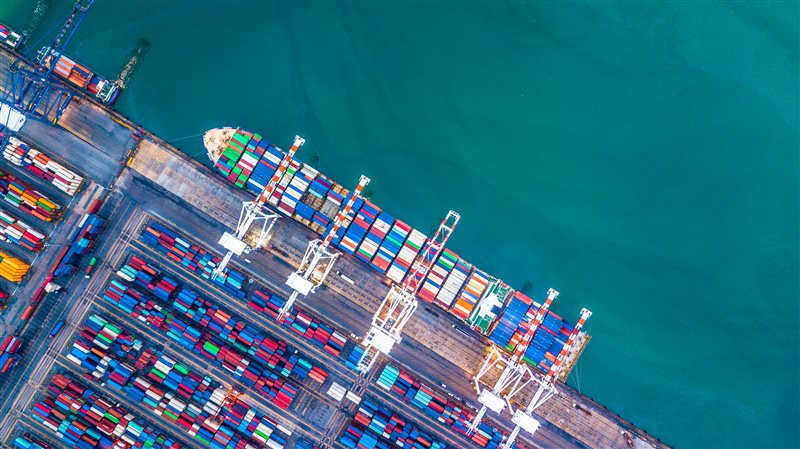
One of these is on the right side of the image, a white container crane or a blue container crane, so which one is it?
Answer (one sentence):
The feature located on the right side of the image is a white container crane.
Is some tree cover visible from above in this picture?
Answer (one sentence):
No, the scene doesn't show any tree cover.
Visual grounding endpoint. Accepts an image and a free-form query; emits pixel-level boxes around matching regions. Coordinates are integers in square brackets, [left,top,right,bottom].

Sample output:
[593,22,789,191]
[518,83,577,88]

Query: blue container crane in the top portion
[0,0,95,151]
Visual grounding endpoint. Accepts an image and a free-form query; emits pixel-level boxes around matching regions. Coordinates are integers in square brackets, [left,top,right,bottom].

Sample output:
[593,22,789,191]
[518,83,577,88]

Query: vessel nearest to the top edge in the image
[0,19,34,54]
